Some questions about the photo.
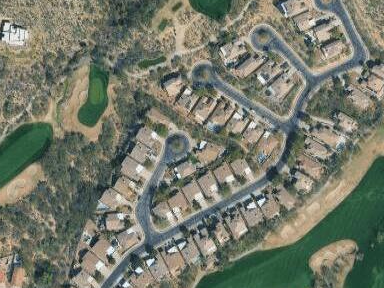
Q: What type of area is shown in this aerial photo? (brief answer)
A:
residential area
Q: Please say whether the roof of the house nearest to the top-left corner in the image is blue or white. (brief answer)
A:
white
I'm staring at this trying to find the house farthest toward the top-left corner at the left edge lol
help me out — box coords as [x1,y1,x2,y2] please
[2,21,28,46]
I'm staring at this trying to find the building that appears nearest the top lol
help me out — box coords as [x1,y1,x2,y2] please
[281,0,310,18]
